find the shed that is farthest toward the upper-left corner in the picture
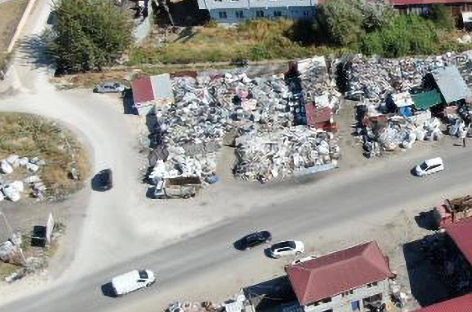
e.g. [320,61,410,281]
[133,73,175,117]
